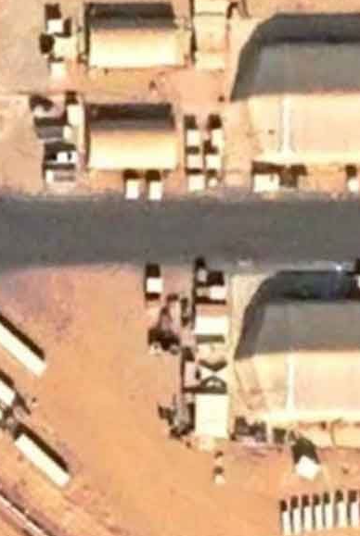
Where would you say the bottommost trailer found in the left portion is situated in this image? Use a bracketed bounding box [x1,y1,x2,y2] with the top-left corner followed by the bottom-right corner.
[14,435,69,487]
